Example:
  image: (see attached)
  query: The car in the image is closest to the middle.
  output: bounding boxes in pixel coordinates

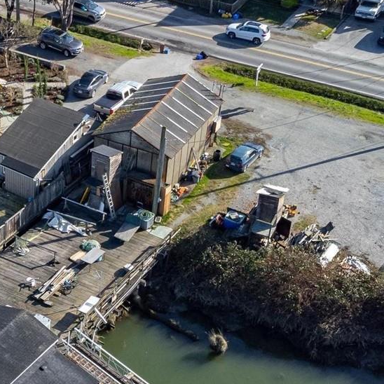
[218,143,271,174]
